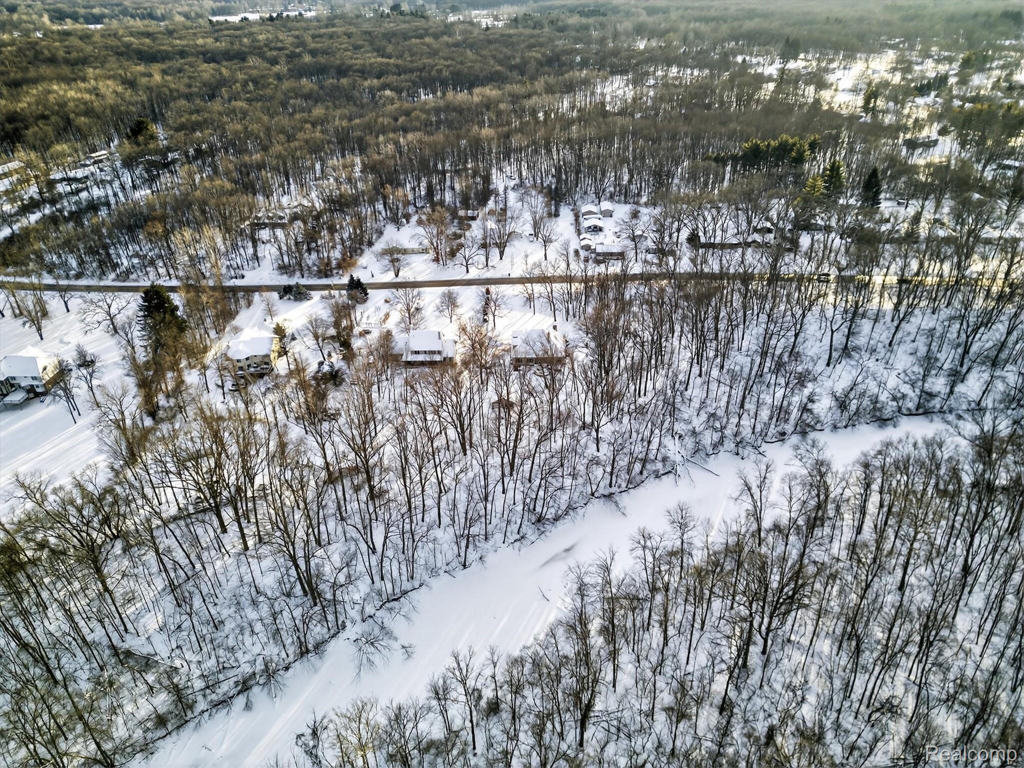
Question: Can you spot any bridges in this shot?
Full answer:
No, there's no bridge here.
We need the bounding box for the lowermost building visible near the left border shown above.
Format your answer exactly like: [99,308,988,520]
[0,345,68,407]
